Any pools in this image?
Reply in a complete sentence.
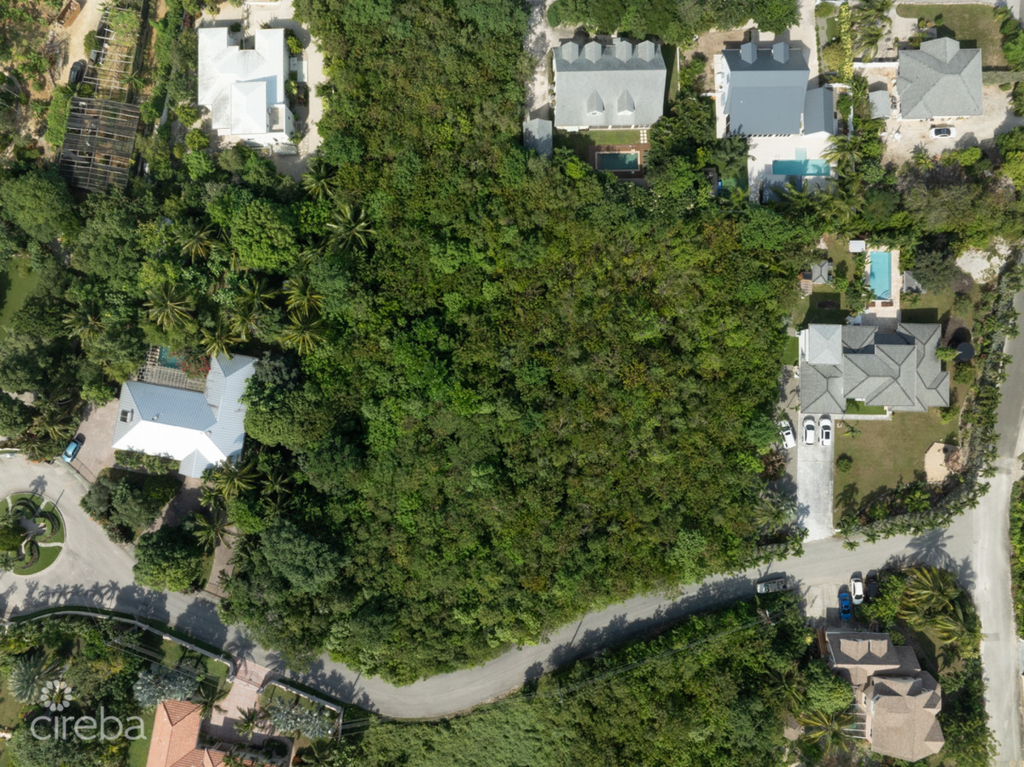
Yes, a pool appears in the view.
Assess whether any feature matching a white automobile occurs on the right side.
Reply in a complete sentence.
Yes, a white automobile can be seen on the right side.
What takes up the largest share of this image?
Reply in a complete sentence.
Most of the picture is covered by trees.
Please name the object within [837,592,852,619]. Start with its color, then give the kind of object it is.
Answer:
blue car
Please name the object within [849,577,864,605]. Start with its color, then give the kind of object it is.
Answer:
white car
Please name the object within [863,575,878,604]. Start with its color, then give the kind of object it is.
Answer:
black vehicle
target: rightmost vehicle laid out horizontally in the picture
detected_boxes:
[928,126,957,140]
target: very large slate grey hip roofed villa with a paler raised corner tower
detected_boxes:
[793,324,950,413]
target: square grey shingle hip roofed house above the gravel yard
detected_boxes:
[889,36,982,123]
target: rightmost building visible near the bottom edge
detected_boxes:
[816,626,944,762]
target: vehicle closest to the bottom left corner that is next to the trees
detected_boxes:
[62,436,83,463]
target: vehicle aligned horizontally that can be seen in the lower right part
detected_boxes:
[755,577,788,595]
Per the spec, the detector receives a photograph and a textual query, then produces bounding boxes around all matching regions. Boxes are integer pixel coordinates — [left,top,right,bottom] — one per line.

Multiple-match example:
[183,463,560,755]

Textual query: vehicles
[62,436,83,463]
[801,418,816,444]
[778,420,797,448]
[69,59,88,89]
[837,592,852,619]
[863,575,878,604]
[755,577,788,595]
[849,577,864,605]
[928,126,957,140]
[817,418,833,445]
